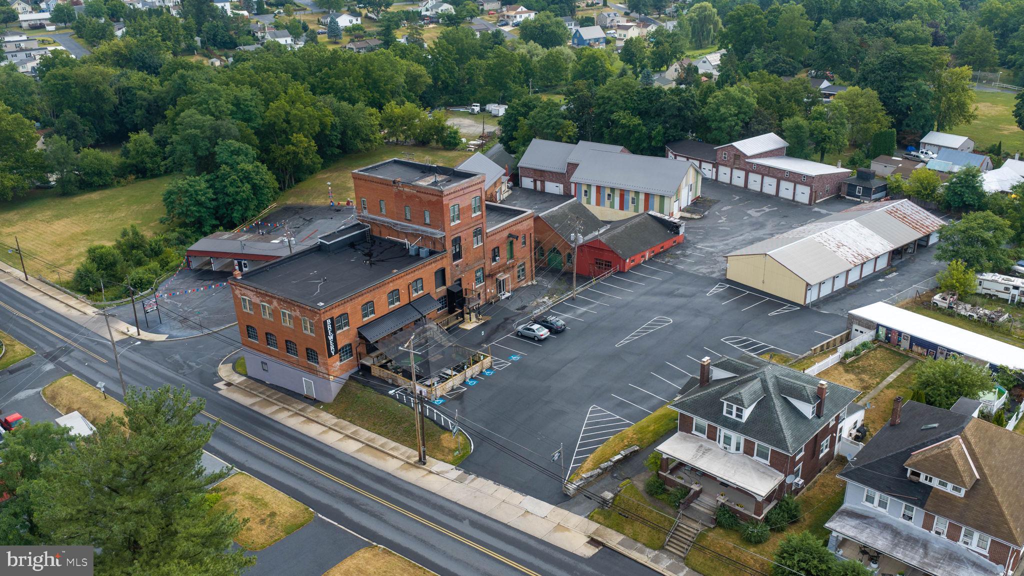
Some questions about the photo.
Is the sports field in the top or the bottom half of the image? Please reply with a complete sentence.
You can find the sports field in the top half.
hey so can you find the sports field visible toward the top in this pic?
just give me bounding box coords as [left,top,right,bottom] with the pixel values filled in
[956,91,1024,163]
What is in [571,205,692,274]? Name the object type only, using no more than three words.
barn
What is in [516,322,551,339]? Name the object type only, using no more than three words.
car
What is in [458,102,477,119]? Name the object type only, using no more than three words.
vehicle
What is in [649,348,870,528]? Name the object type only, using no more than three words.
house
